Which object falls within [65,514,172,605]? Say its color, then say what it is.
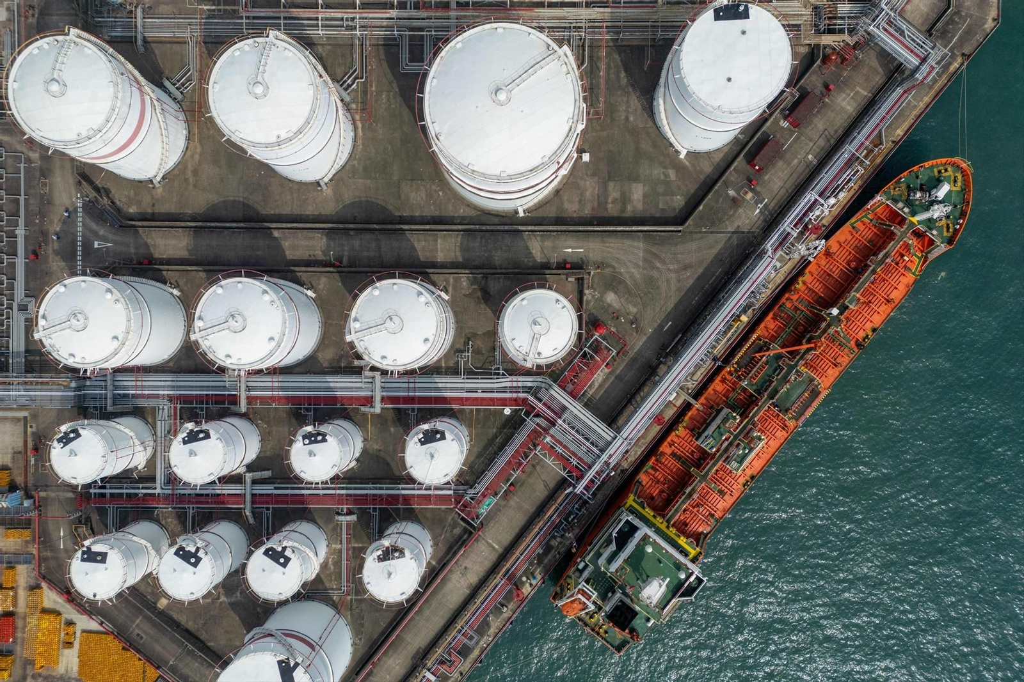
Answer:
white storage tank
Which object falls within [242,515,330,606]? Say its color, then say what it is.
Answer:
white storage tank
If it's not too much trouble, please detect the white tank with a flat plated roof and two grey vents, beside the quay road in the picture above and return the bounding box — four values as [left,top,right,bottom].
[653,0,798,157]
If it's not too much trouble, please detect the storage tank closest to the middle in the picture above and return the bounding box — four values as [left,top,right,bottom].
[496,285,583,377]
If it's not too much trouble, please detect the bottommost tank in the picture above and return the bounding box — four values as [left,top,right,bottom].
[211,599,354,682]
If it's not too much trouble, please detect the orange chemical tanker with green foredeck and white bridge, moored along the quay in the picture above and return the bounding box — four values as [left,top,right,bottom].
[546,160,977,653]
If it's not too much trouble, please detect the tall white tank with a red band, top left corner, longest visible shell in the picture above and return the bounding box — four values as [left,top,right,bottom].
[3,20,193,186]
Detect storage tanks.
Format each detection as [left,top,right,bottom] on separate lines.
[65,514,172,605]
[242,515,330,606]
[340,271,455,378]
[204,24,356,186]
[358,516,434,607]
[418,17,587,213]
[3,20,193,186]
[653,0,798,157]
[184,270,324,378]
[45,414,160,490]
[284,418,365,489]
[496,285,583,377]
[165,415,261,489]
[399,416,471,490]
[211,599,354,682]
[590,323,628,356]
[155,514,251,605]
[26,268,190,377]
